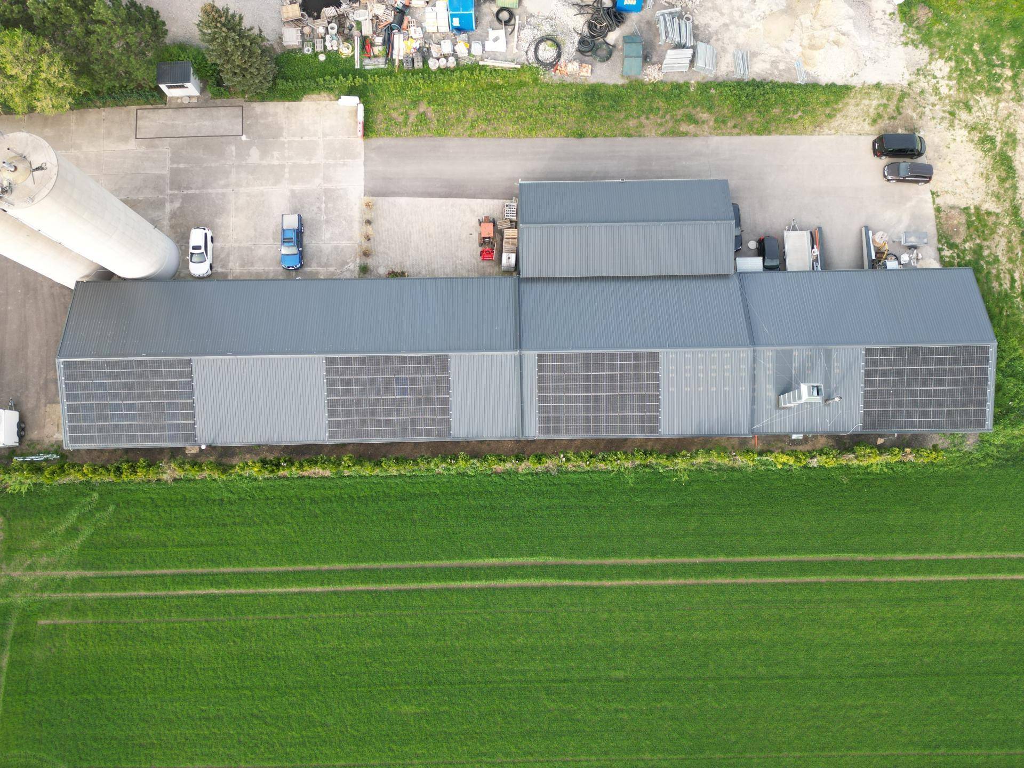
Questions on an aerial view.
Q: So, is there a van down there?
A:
Yes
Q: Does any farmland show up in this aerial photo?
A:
Yes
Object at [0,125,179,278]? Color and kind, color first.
white silo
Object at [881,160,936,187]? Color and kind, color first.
gray car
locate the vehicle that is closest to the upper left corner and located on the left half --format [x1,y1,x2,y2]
[187,225,214,276]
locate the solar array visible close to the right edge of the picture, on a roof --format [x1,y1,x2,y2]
[862,343,995,431]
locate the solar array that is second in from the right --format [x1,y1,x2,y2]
[535,349,663,438]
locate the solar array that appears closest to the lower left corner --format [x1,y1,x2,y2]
[57,357,197,446]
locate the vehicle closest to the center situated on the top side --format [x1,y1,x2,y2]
[478,215,496,255]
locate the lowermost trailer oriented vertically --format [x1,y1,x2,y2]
[0,395,24,445]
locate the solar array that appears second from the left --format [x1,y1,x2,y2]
[322,352,453,442]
